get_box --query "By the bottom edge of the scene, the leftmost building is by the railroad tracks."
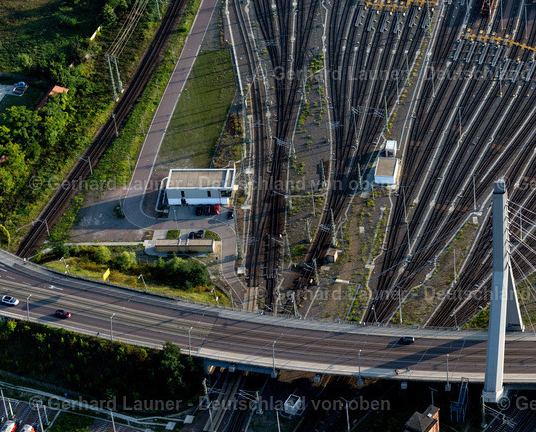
[284,393,302,415]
